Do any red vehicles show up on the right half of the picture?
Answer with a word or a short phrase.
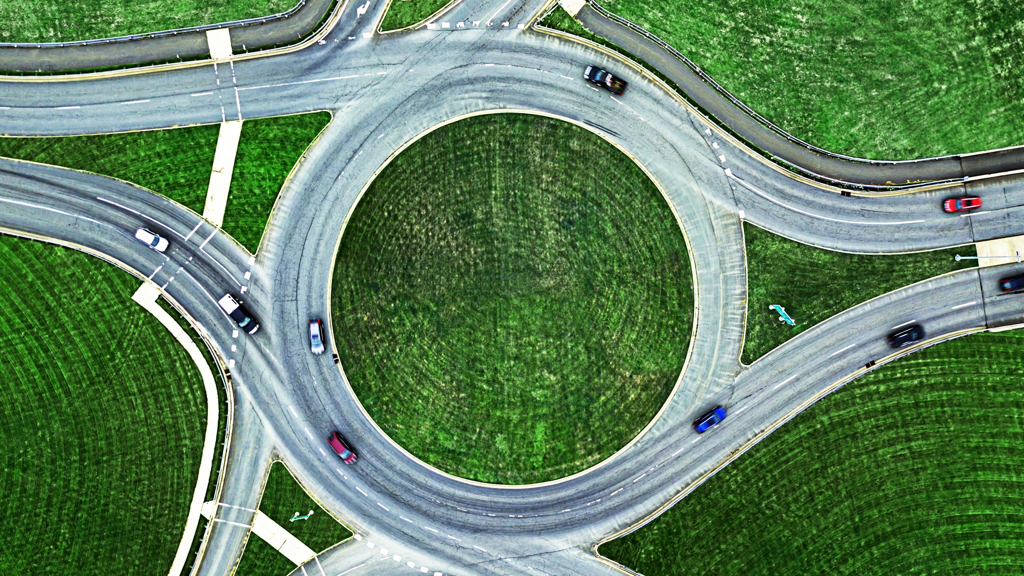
Yes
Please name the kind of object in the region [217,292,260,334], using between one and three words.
truck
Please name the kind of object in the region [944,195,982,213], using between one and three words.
car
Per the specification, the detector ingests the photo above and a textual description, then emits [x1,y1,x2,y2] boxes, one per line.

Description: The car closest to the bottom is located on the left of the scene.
[325,432,357,464]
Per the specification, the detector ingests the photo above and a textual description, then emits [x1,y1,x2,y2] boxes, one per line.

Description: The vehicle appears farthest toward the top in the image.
[584,65,629,96]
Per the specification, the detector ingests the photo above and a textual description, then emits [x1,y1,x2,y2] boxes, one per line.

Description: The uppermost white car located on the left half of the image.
[132,225,171,254]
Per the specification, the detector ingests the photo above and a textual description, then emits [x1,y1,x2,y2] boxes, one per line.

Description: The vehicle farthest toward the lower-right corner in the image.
[885,323,925,350]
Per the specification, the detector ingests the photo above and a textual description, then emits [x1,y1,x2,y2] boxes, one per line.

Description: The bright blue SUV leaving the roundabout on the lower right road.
[691,404,728,435]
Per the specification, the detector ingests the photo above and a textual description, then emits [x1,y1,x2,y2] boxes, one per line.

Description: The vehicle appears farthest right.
[999,272,1024,292]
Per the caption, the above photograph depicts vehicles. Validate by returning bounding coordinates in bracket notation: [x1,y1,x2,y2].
[691,404,728,435]
[584,65,629,96]
[999,272,1024,292]
[944,195,982,213]
[132,225,171,254]
[885,323,925,350]
[325,432,357,464]
[217,292,260,334]
[307,318,326,354]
